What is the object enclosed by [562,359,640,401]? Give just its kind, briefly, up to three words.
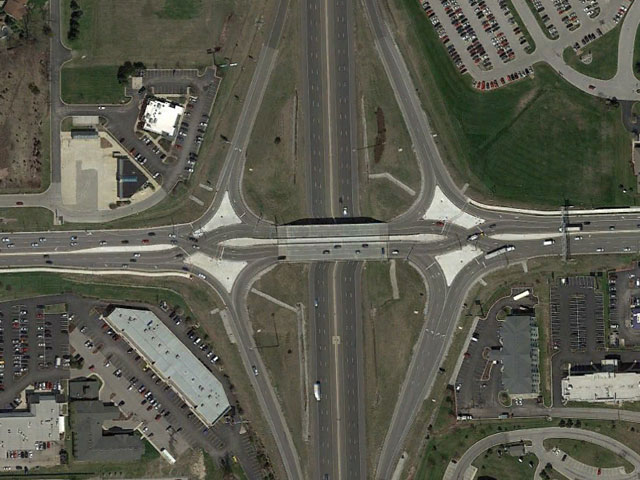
building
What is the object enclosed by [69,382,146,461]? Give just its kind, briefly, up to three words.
building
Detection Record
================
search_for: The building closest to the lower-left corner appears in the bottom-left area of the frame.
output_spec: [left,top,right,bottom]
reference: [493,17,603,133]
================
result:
[0,394,69,451]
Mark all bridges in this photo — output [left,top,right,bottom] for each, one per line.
[278,222,389,261]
